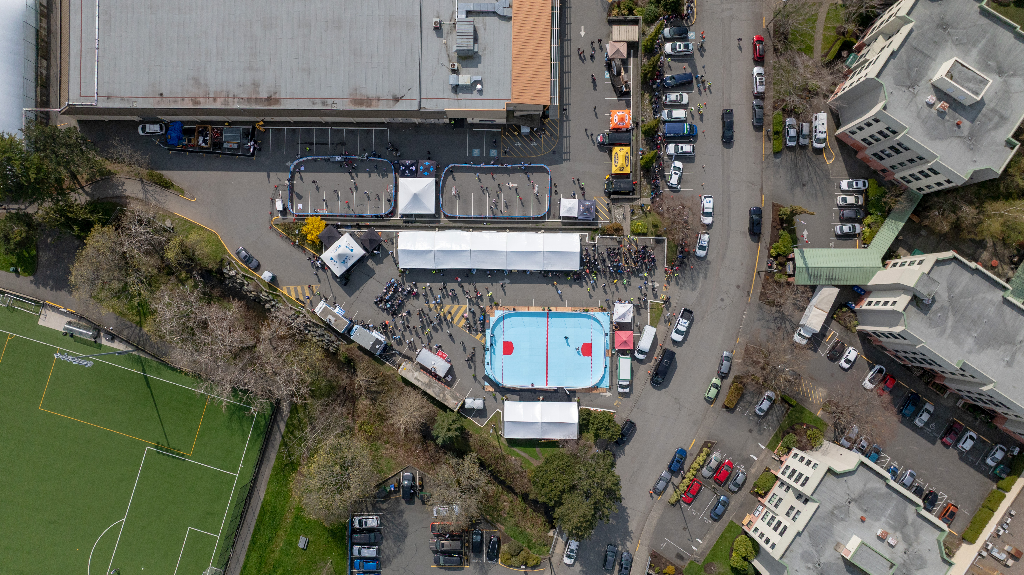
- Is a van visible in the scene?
Yes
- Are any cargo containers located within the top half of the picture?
No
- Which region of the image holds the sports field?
bottom left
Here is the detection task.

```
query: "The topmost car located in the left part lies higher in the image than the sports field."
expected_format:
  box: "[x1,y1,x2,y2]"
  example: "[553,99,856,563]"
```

[138,122,166,136]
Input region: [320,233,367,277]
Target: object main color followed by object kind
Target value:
white tent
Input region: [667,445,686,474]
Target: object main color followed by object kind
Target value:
blue vehicle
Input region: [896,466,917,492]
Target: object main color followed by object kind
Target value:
gray car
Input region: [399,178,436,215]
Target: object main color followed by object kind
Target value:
white tent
